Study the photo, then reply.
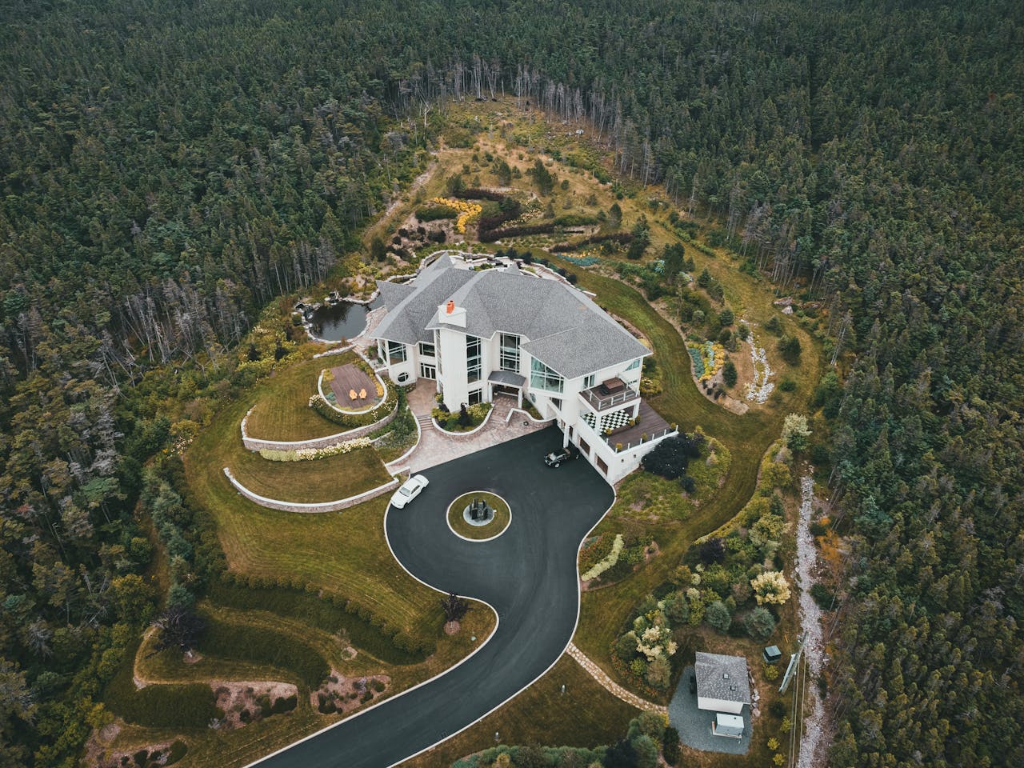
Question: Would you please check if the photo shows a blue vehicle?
No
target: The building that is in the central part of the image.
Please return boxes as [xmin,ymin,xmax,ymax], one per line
[369,252,672,484]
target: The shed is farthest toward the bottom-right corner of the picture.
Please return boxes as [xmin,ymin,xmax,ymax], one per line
[693,648,754,714]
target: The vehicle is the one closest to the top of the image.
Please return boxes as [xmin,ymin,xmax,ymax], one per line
[541,443,575,466]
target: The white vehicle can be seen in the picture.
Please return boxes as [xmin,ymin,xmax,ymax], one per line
[390,469,432,503]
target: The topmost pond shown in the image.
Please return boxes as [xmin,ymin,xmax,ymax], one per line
[306,293,380,342]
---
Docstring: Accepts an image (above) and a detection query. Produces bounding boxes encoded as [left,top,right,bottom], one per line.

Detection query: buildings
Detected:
[693,648,754,714]
[369,252,672,484]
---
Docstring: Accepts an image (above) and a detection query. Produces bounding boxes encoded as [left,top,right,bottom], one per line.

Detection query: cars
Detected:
[390,469,432,503]
[541,443,575,466]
